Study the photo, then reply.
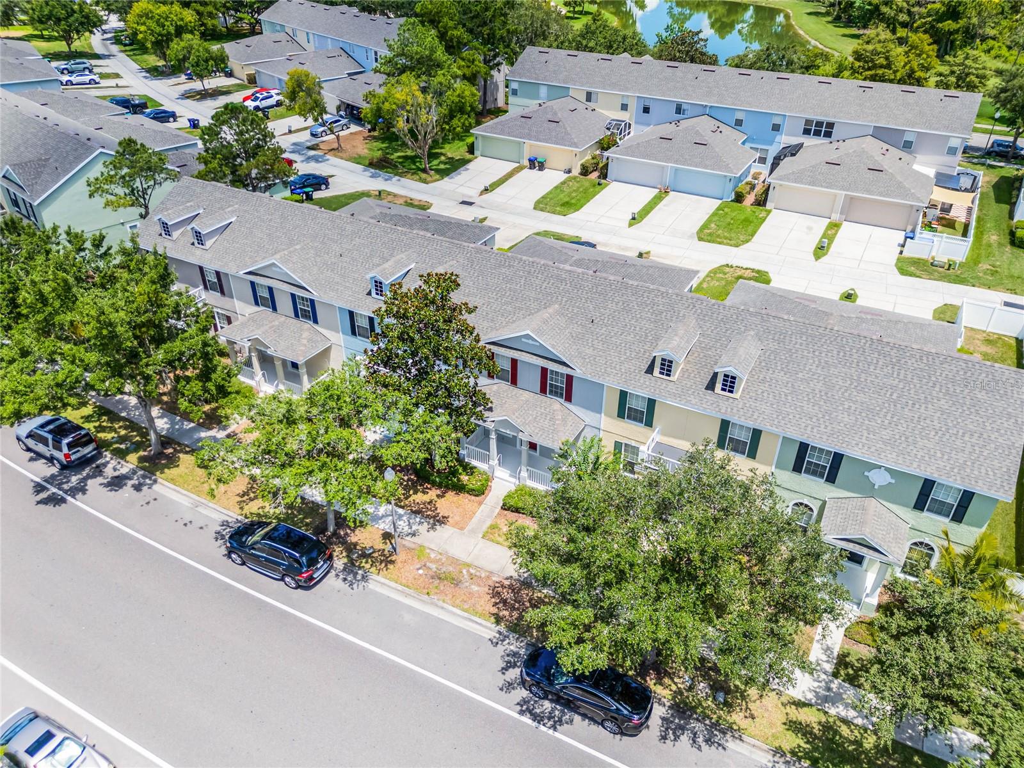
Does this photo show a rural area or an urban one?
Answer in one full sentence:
From above, the setting appears urban.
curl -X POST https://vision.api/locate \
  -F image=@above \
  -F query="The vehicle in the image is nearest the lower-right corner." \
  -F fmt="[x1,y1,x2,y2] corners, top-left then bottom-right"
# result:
[517,642,656,737]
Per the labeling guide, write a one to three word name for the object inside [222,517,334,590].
car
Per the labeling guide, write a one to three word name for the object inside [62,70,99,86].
car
